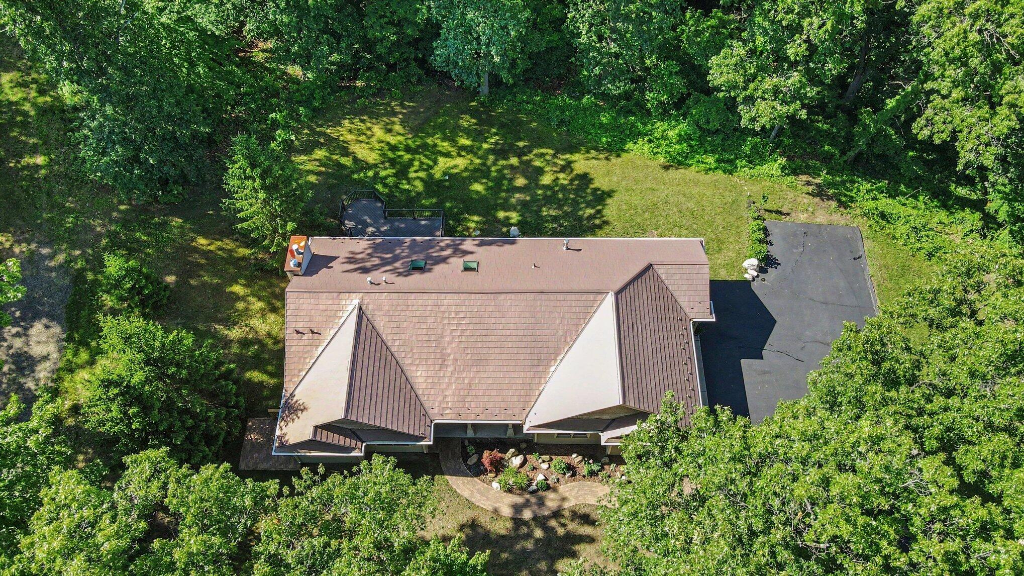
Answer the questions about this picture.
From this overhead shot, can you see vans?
No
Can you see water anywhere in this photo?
No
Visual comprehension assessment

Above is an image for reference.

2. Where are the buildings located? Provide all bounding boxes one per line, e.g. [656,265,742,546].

[273,236,717,463]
